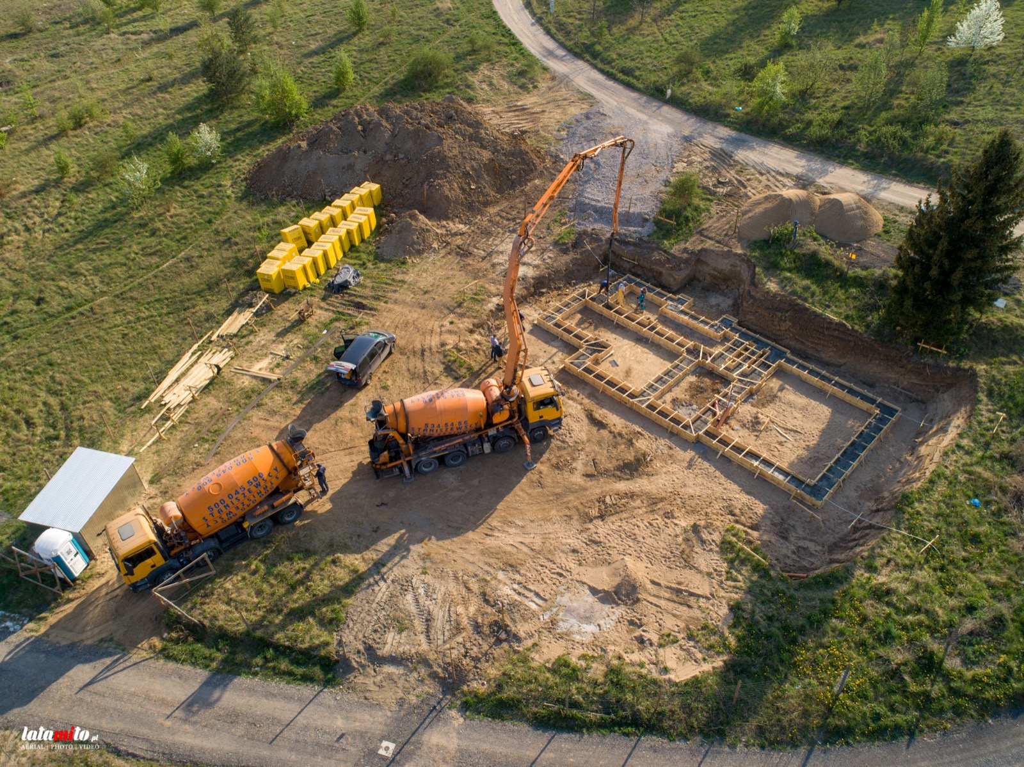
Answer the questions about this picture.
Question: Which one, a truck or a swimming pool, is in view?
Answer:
truck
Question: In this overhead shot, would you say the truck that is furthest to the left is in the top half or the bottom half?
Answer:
bottom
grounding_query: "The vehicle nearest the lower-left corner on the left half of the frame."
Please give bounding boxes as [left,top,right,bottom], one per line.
[102,422,327,597]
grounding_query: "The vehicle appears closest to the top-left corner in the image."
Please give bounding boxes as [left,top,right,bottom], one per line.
[325,330,395,390]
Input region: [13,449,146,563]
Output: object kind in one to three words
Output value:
shed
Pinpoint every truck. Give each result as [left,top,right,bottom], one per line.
[102,422,327,597]
[358,136,635,485]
